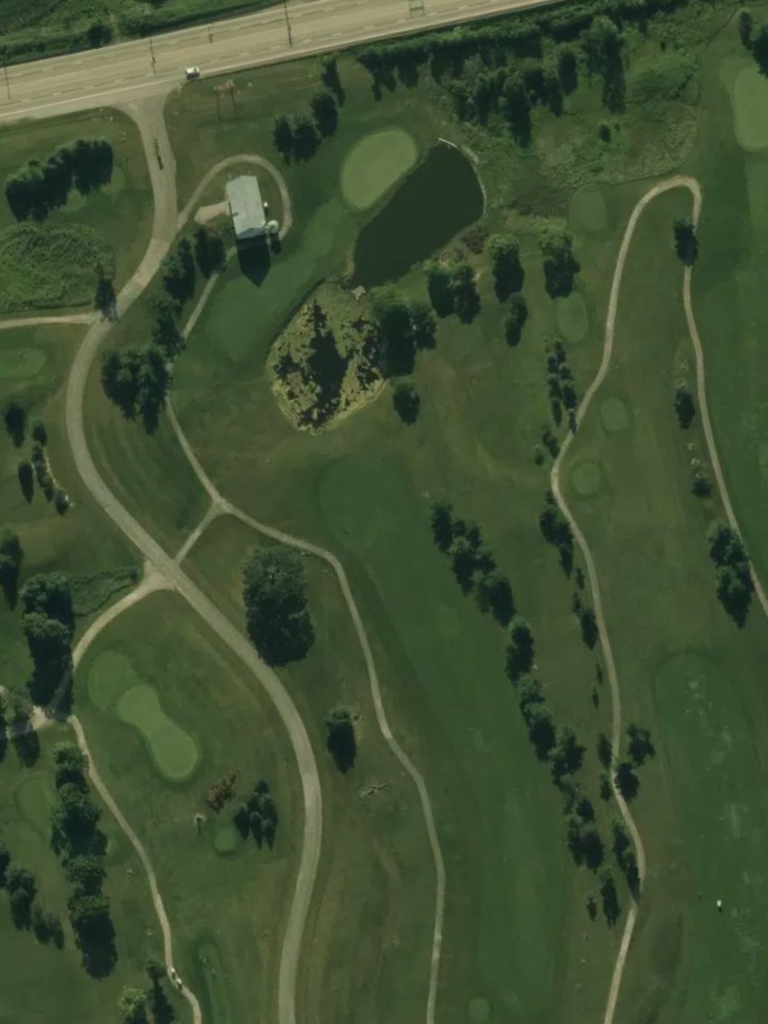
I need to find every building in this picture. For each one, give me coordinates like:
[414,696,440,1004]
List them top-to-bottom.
[226,177,265,237]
